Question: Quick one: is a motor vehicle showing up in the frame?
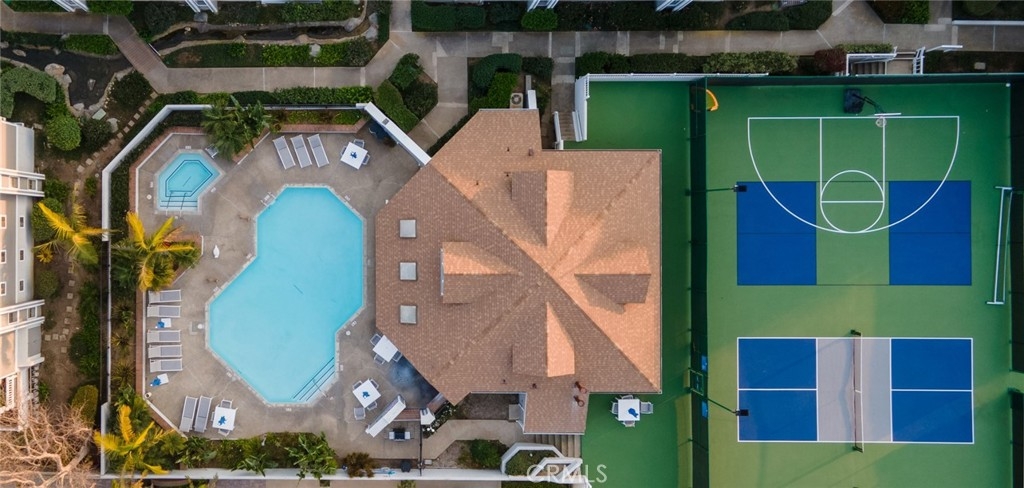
No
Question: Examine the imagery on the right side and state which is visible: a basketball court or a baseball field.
basketball court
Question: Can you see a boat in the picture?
No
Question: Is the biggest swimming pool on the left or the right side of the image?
left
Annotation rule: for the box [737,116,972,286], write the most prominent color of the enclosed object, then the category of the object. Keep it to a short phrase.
blue basketball court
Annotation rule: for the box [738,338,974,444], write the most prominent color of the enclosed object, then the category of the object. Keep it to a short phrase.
blue sports court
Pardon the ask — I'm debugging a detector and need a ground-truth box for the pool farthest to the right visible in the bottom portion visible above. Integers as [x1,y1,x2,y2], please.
[203,183,368,408]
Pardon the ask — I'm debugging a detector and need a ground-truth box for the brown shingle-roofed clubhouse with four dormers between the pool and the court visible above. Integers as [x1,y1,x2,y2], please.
[376,108,662,436]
